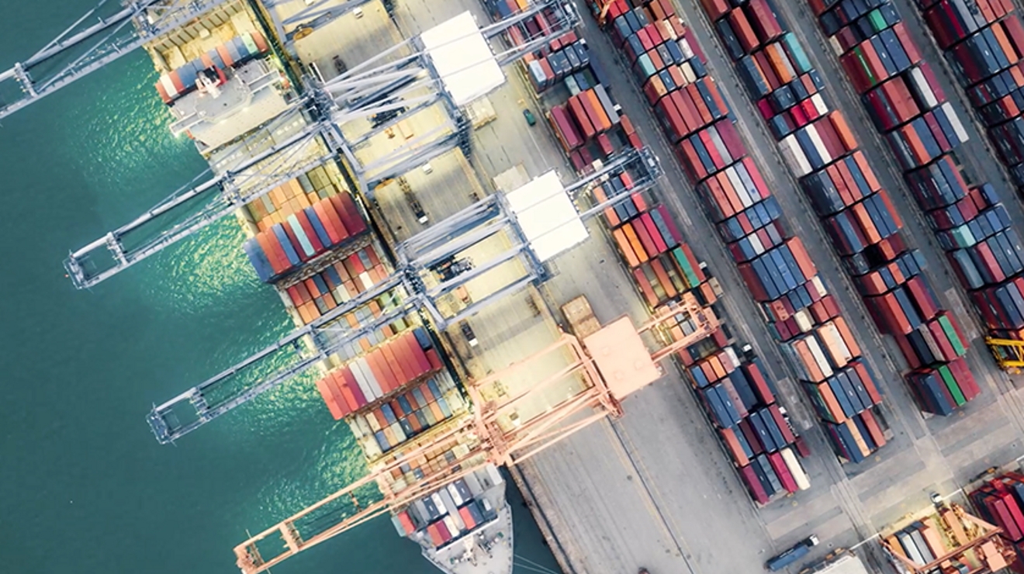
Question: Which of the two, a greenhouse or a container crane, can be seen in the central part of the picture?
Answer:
container crane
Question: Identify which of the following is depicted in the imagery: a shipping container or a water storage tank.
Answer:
shipping container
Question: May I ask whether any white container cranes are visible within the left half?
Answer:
Yes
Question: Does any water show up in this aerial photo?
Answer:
Yes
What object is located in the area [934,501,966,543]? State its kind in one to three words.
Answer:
shipping container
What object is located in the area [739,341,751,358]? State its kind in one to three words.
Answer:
vehicle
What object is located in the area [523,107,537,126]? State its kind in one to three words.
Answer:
vehicle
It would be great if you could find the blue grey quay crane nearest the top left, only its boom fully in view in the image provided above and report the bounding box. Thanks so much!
[0,0,399,128]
